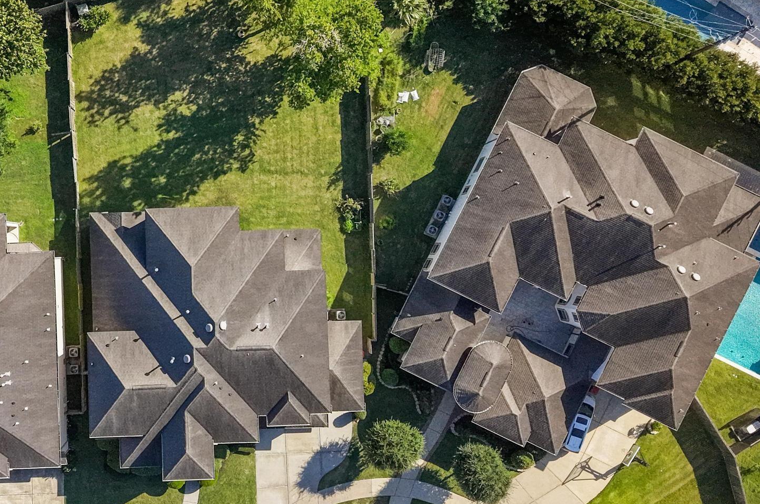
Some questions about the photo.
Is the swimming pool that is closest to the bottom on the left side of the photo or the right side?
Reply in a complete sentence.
It is on the right.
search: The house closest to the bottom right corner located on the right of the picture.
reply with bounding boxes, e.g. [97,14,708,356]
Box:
[389,64,760,455]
